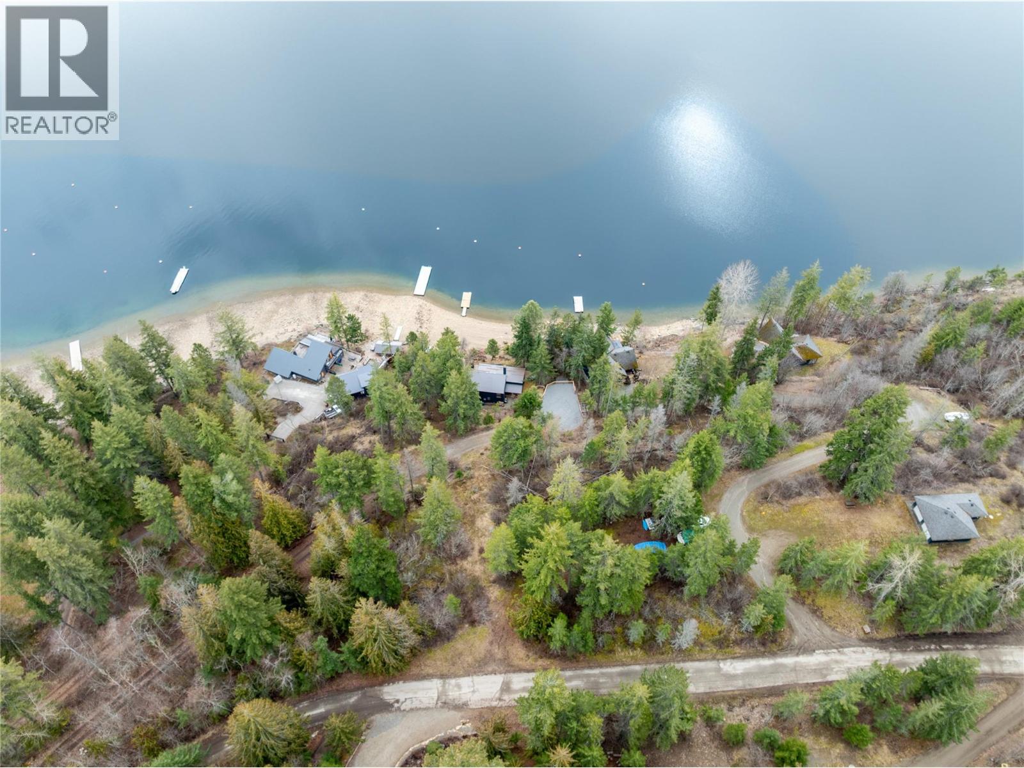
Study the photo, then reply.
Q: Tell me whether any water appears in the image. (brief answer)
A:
Yes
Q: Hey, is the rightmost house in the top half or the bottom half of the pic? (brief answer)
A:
bottom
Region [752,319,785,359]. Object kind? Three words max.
house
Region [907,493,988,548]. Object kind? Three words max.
house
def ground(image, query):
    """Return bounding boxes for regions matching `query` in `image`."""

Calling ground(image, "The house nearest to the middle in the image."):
[472,364,525,406]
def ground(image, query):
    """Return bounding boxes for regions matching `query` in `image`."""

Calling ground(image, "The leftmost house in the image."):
[264,337,332,387]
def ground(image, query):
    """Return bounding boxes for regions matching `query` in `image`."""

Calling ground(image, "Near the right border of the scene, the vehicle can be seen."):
[944,409,974,422]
